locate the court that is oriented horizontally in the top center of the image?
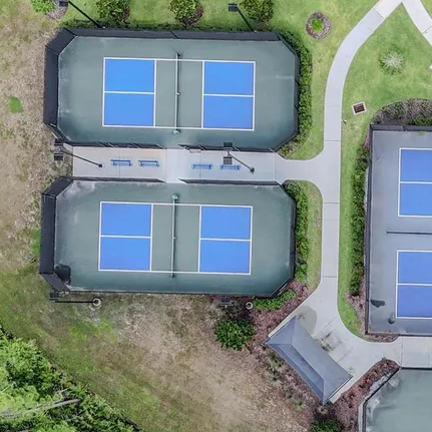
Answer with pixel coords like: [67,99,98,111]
[57,37,294,149]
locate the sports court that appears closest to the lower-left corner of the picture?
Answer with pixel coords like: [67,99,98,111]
[55,181,289,295]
